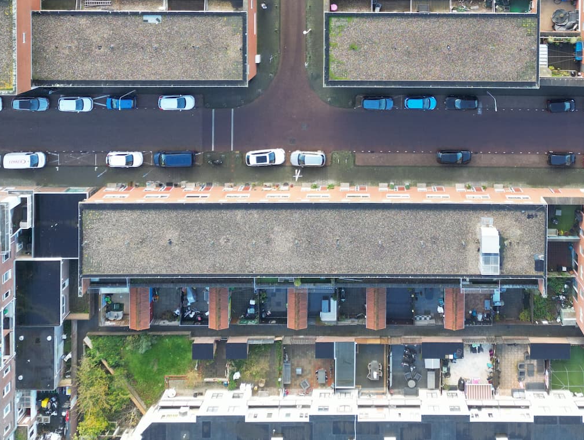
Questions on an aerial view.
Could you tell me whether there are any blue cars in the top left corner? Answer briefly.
Yes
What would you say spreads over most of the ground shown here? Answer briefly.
buildings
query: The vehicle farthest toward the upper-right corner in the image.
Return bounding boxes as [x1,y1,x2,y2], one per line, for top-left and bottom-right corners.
[545,98,575,115]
